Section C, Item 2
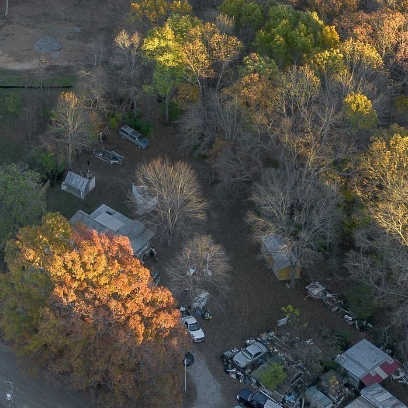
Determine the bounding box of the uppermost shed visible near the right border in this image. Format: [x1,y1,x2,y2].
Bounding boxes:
[331,339,399,395]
